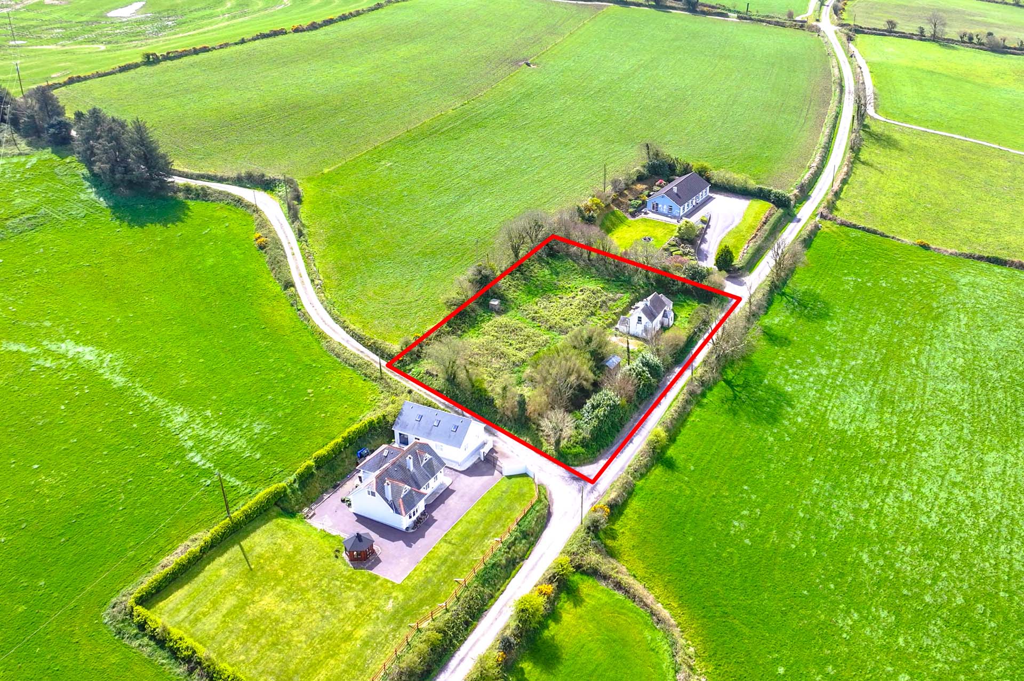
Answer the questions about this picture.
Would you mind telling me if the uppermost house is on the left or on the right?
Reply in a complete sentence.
You can find the uppermost house on the right side of the picture.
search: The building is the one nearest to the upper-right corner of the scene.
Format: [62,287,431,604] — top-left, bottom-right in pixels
[648,173,709,218]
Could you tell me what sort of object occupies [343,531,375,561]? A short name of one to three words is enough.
shed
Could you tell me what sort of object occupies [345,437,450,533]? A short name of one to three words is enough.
house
